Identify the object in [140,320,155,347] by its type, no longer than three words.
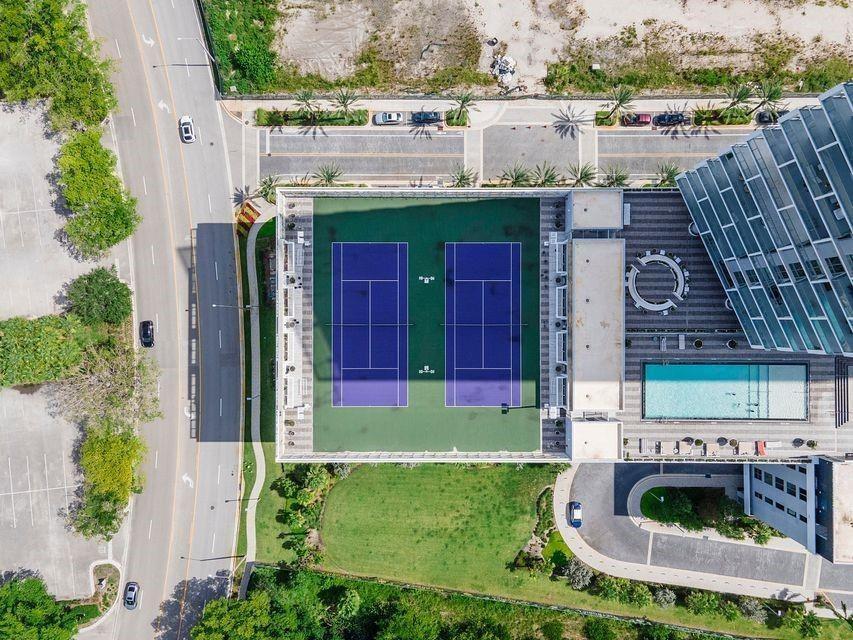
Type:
car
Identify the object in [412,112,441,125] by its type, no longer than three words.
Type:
vehicle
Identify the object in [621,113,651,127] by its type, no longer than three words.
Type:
vehicle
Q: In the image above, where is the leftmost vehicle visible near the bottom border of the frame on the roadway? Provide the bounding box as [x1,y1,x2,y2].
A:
[124,580,140,609]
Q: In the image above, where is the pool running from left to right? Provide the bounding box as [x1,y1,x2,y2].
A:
[642,361,810,423]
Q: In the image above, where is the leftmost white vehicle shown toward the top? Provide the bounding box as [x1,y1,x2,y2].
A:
[180,116,196,144]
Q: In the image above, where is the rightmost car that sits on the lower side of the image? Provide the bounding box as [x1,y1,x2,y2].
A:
[569,501,582,526]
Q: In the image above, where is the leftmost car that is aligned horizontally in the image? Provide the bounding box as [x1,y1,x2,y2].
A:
[374,112,403,125]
